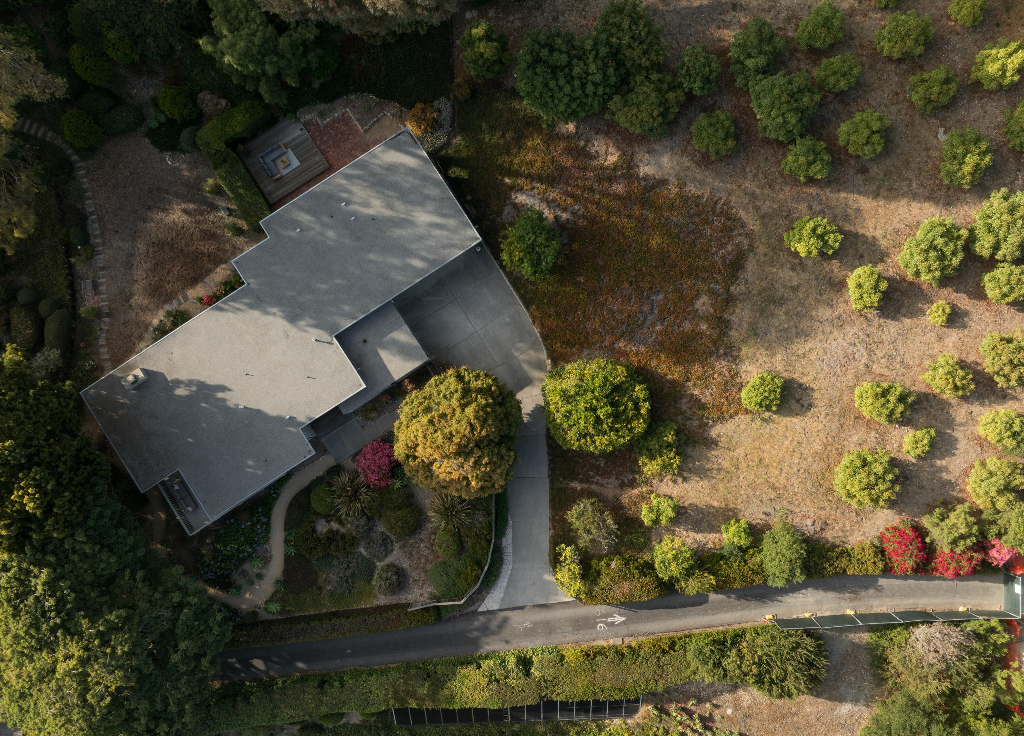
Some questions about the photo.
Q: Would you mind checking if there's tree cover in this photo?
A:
Yes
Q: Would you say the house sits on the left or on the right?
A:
left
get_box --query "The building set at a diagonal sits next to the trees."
[81,128,482,535]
